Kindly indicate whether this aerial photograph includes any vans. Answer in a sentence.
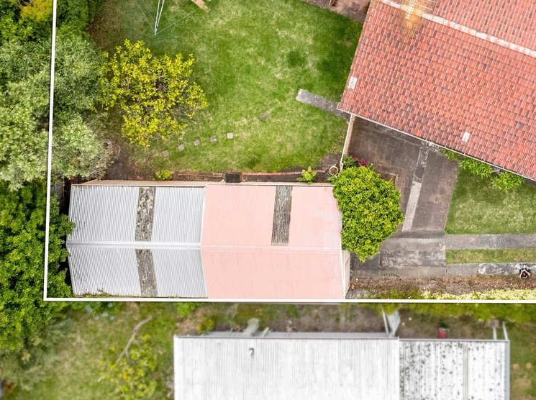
No, this view has no van in it.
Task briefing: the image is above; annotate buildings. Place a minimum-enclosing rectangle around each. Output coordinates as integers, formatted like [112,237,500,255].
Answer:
[63,180,352,300]
[171,319,509,400]
[337,0,536,182]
